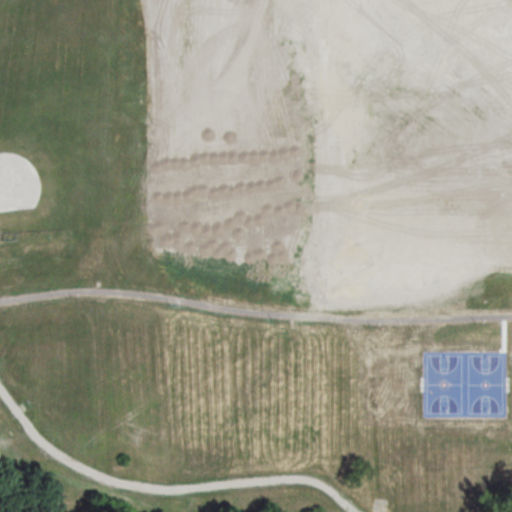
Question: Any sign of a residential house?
No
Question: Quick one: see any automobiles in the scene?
No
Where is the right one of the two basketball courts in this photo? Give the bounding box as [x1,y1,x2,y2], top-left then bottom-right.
[466,352,508,419]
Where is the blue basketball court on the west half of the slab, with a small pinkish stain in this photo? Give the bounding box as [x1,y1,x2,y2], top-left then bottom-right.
[424,352,466,419]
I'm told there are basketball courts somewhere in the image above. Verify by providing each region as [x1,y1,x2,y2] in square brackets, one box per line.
[424,352,466,419]
[466,352,508,419]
